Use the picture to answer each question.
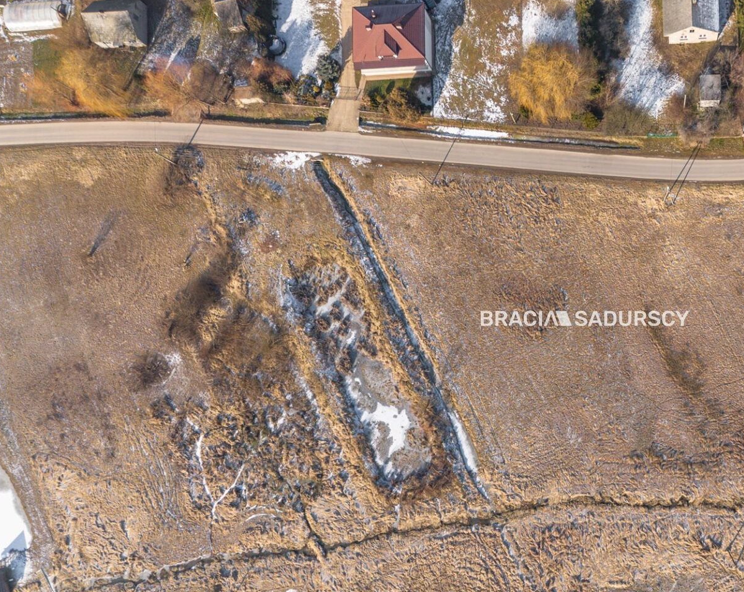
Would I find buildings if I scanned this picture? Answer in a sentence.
Yes, I can see a building in this picture.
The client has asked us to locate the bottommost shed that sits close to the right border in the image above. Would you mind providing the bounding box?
[698,74,722,111]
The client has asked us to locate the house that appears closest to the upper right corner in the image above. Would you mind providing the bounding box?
[663,0,726,45]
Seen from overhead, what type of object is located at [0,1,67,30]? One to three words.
greenhouse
